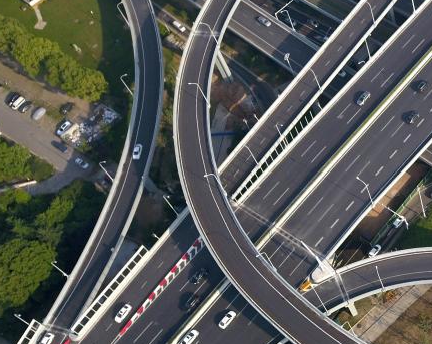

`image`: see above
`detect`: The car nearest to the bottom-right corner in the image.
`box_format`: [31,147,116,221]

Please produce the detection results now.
[367,243,383,259]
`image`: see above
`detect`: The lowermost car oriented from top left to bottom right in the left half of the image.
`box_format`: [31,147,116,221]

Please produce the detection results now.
[74,156,90,169]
